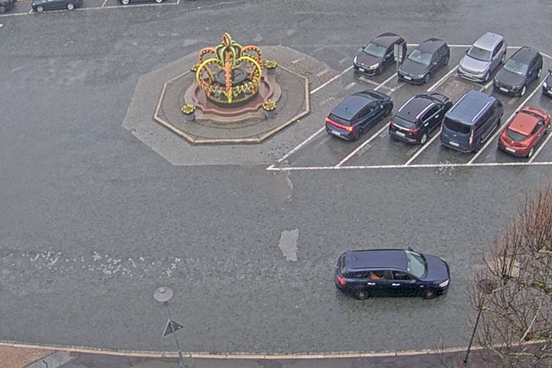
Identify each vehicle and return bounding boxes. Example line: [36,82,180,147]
[457,29,514,82]
[398,35,457,85]
[540,66,552,97]
[495,103,552,161]
[386,87,459,147]
[320,86,400,146]
[334,253,453,309]
[436,89,513,158]
[492,41,548,96]
[351,27,415,76]
[27,0,86,12]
